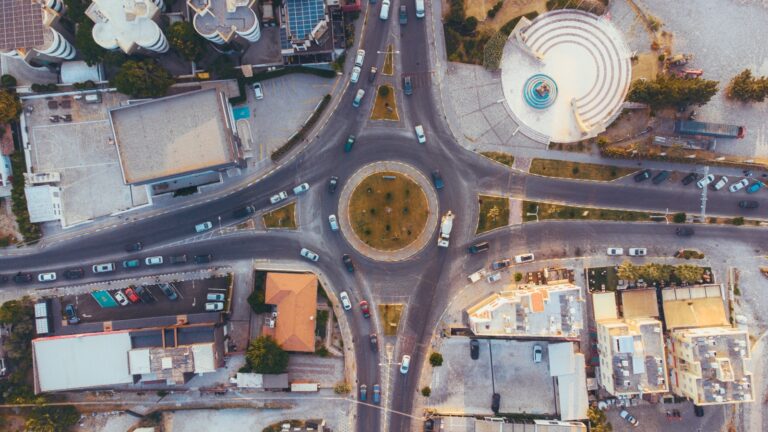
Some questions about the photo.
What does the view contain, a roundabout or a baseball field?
roundabout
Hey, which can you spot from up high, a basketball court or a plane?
basketball court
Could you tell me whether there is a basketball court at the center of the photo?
No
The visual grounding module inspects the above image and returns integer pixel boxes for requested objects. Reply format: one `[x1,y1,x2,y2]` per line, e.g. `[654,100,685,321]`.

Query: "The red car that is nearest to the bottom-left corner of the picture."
[125,287,140,303]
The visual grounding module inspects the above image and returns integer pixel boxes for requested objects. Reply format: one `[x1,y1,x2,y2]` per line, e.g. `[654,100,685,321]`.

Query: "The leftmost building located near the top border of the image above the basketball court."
[0,0,82,68]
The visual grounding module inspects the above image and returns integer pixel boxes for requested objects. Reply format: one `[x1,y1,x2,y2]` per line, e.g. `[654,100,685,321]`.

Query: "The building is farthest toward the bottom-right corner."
[674,326,756,406]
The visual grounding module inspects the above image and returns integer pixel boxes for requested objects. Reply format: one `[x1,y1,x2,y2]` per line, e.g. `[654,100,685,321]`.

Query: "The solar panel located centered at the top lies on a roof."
[289,0,325,38]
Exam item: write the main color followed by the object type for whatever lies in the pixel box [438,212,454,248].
white vehicle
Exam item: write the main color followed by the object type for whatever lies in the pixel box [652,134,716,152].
gray trailer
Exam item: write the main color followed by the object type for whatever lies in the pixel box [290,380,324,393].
white vehicle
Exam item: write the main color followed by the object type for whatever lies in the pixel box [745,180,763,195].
blue car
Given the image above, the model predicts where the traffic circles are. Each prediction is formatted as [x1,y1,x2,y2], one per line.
[338,161,439,261]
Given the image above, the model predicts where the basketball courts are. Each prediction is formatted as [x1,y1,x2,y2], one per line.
[32,119,119,170]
